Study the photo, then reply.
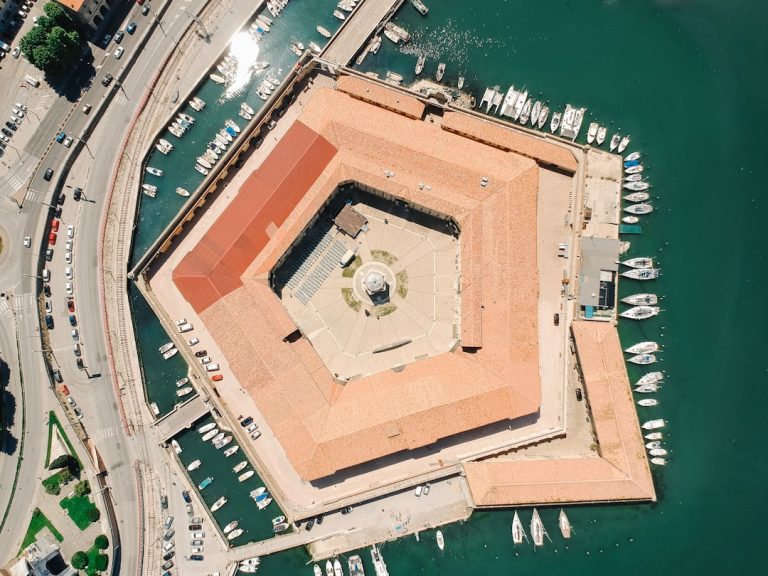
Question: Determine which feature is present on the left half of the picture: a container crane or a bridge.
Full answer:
There is a bridge on the left half of the picture.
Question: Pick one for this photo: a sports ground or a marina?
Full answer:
It's a marina.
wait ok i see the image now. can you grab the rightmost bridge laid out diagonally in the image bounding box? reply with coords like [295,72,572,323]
[318,0,399,68]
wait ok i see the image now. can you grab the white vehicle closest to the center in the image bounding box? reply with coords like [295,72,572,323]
[340,245,358,266]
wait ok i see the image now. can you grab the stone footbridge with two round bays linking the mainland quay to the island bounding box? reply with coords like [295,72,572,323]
[151,394,211,442]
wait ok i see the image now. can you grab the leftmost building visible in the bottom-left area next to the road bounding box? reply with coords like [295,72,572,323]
[12,537,91,576]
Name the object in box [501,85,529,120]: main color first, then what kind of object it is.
white boat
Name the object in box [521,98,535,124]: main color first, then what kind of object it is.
white boat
